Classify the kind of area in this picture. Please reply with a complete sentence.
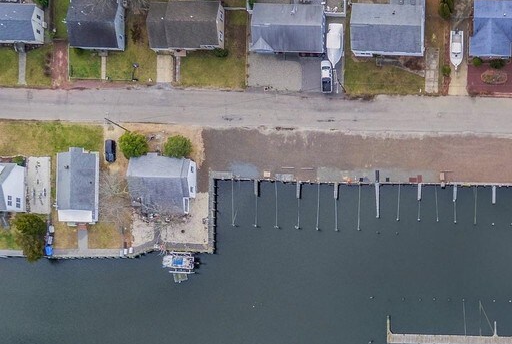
It's a residential area.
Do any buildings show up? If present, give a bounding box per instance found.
[248,0,324,57]
[349,0,426,64]
[119,150,197,215]
[62,0,126,58]
[469,0,512,60]
[0,162,30,214]
[0,2,45,52]
[57,146,100,230]
[143,0,224,57]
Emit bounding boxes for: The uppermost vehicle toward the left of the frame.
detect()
[104,139,118,164]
